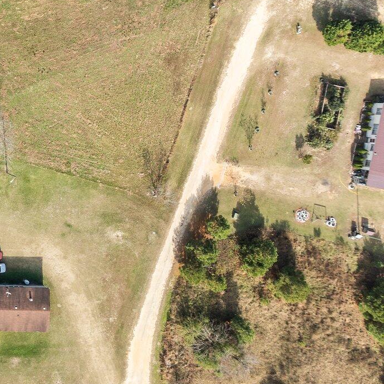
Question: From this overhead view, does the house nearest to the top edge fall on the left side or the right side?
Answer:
right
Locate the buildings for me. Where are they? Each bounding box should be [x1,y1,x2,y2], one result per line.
[350,111,384,193]
[0,283,53,333]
